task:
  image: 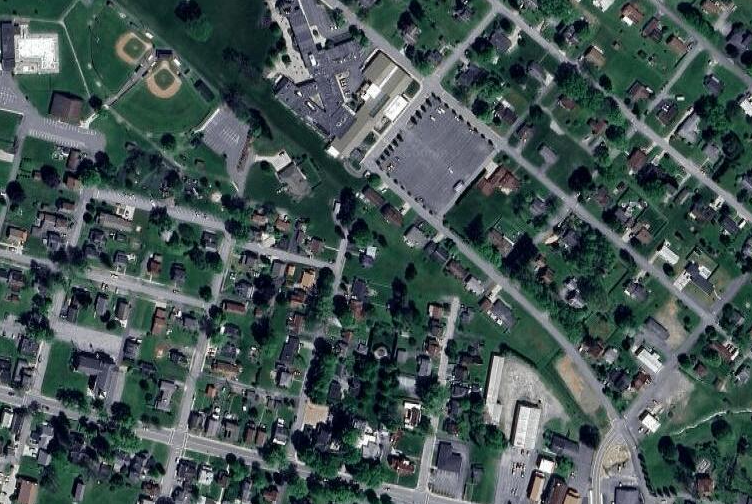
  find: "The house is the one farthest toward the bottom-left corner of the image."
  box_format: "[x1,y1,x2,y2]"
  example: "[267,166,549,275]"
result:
[17,480,38,504]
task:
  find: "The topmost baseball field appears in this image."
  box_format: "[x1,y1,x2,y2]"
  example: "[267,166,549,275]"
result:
[90,17,153,91]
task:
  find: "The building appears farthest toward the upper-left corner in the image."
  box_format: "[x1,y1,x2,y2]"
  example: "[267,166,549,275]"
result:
[0,21,16,70]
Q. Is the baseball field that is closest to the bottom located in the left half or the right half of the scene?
left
